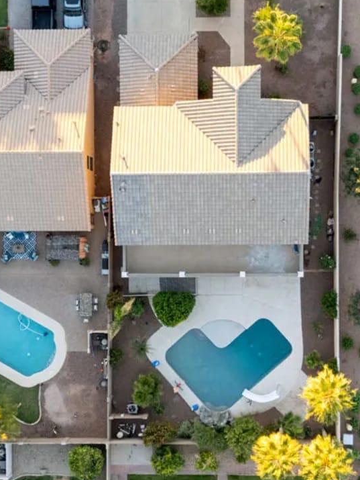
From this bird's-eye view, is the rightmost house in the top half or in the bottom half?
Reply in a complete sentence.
The rightmost house sits in the top half of the picture.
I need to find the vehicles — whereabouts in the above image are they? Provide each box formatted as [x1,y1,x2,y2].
[60,0,86,28]
[29,0,55,29]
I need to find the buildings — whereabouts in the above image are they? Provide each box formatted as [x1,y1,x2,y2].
[111,32,310,277]
[0,28,94,232]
